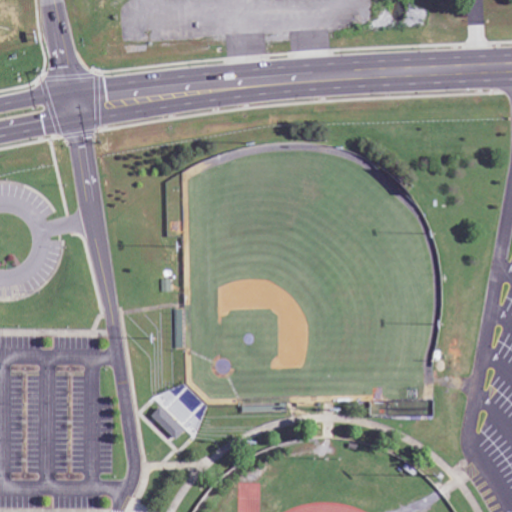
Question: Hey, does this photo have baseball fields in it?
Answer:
Yes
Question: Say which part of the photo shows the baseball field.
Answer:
center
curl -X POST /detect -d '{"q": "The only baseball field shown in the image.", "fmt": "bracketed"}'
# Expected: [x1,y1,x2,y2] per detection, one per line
[170,142,442,413]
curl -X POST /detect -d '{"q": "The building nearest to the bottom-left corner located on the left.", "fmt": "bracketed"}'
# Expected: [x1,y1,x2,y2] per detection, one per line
[151,406,184,440]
